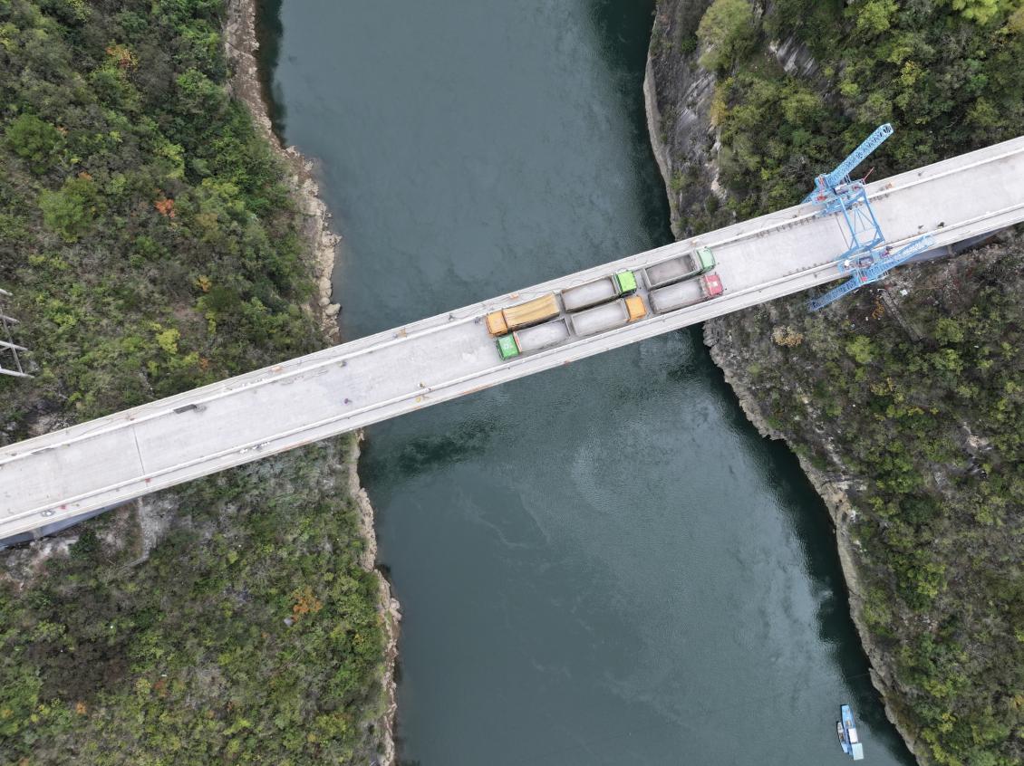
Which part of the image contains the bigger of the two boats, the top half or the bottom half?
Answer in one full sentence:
The bigger of the two boats is in the bottom half of the image.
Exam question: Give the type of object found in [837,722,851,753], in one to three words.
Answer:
boat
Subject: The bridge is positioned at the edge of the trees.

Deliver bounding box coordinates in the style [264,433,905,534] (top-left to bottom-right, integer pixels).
[0,135,1024,547]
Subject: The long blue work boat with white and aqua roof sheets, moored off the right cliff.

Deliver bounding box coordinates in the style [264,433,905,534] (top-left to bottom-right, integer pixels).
[841,705,864,760]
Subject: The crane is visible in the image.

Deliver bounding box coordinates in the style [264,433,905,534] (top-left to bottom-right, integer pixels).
[796,126,933,309]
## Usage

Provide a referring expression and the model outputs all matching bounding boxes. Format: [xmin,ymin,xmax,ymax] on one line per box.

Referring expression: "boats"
[841,705,864,760]
[837,722,851,753]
